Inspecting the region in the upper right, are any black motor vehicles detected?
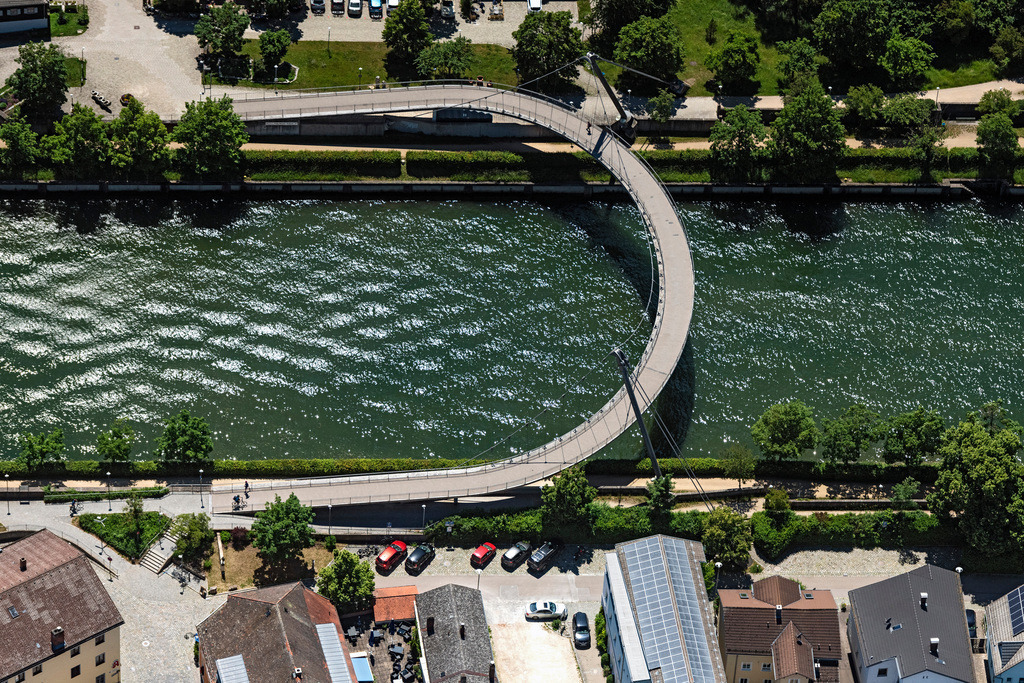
No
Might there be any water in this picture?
Yes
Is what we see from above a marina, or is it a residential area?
residential area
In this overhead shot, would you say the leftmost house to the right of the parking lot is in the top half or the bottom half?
bottom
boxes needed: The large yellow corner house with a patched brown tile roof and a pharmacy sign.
[0,529,125,683]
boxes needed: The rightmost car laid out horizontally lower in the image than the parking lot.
[524,599,568,620]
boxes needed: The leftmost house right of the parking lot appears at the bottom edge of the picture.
[606,534,730,683]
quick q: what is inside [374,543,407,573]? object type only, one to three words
car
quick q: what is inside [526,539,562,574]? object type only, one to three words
car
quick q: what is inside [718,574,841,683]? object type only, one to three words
house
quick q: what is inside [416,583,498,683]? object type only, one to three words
house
